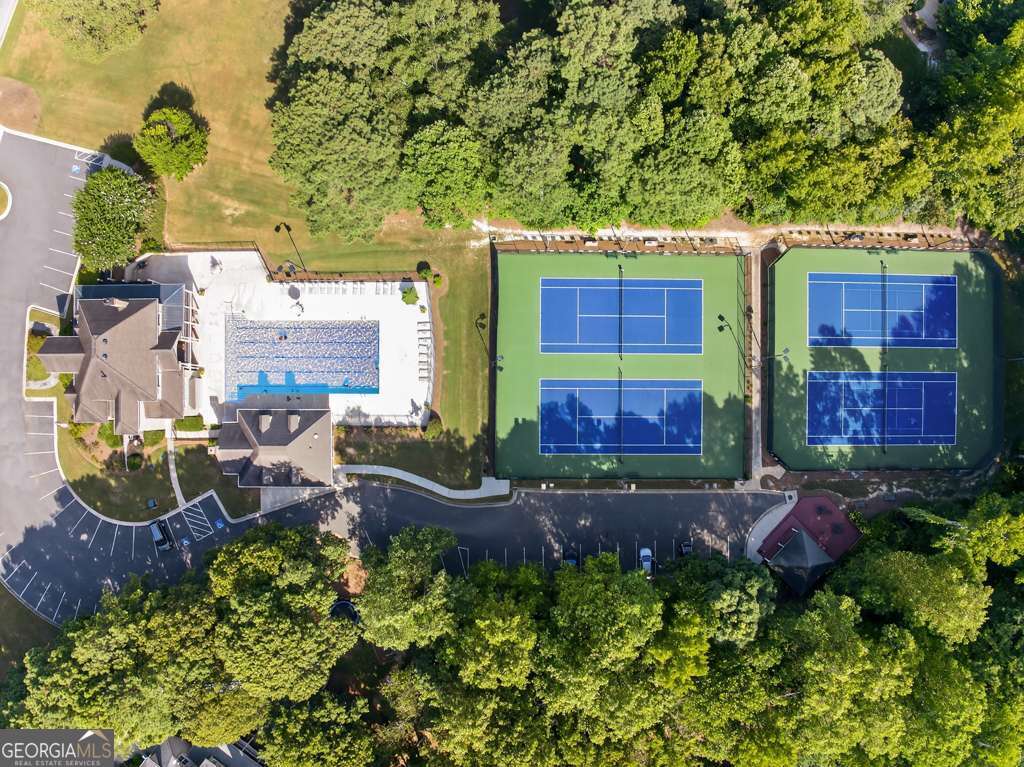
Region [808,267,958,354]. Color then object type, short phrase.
blue tennis court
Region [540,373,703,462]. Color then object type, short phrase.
blue tennis court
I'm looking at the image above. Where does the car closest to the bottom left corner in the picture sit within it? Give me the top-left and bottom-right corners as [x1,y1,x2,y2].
[147,520,172,553]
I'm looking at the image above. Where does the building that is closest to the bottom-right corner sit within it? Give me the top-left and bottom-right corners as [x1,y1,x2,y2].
[765,527,835,595]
